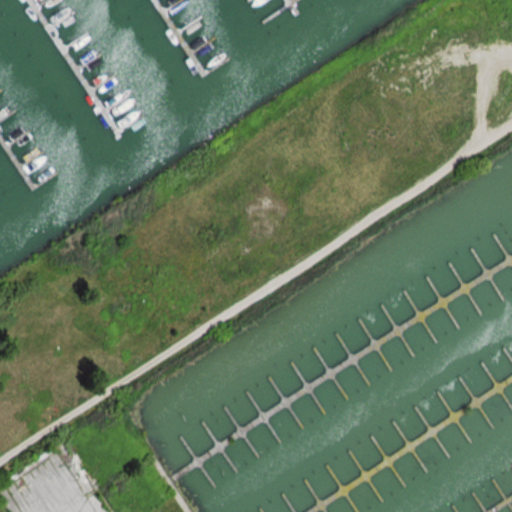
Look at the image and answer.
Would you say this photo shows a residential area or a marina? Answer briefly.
marina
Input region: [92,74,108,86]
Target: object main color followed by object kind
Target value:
white boat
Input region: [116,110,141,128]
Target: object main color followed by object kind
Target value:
white boat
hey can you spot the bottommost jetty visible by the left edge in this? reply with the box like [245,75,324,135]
[0,110,58,192]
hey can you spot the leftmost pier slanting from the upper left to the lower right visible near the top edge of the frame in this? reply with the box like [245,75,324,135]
[28,0,134,140]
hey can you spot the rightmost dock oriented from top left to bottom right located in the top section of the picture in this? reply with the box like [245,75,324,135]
[150,0,230,77]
